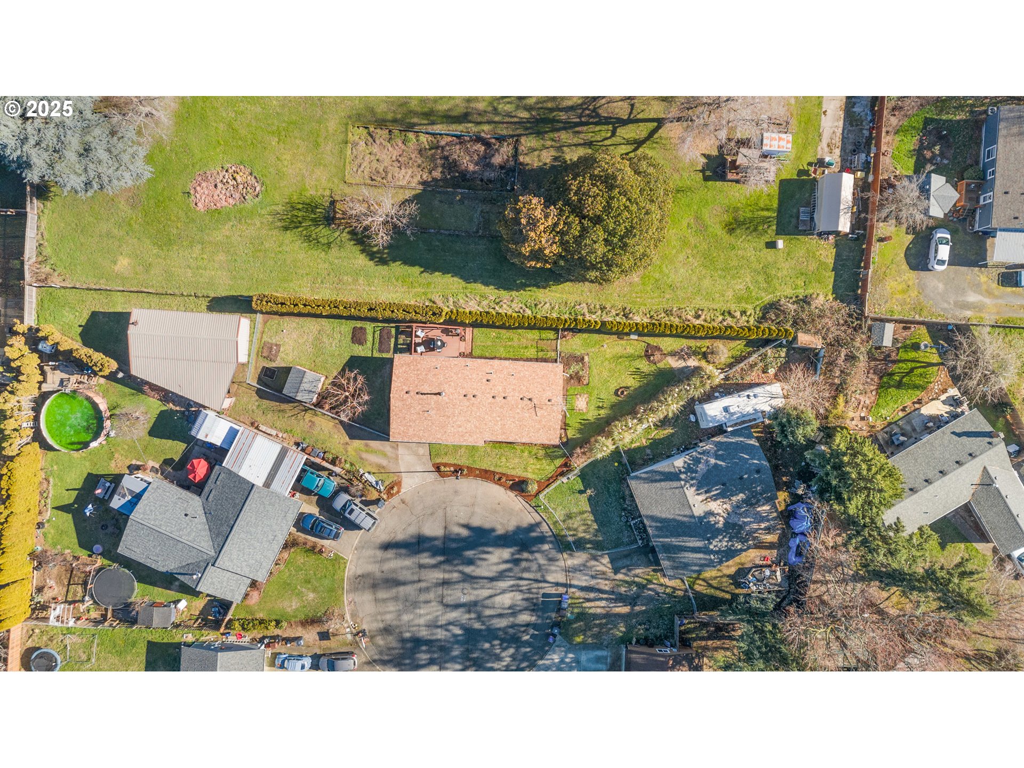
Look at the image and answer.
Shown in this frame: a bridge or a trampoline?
trampoline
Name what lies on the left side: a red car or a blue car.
blue car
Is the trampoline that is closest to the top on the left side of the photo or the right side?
left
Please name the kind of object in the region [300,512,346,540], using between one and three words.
car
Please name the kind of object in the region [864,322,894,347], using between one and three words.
shed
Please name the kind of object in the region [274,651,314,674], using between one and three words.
car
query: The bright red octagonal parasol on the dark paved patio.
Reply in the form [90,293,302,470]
[187,458,211,482]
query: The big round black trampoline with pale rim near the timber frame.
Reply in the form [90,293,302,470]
[92,563,141,609]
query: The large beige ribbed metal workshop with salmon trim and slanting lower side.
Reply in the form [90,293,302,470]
[127,308,253,411]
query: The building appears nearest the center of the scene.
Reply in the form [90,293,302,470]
[390,354,569,446]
